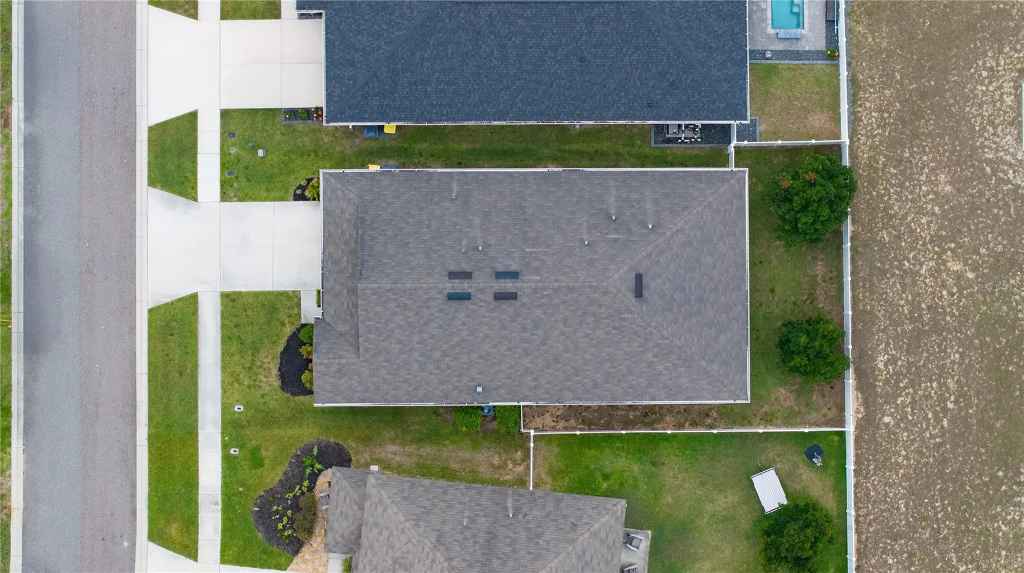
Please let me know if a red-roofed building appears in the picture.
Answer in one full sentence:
No, the photo shows no red-roofed building.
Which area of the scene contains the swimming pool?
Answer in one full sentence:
The swimming pool is in the top right part of the image.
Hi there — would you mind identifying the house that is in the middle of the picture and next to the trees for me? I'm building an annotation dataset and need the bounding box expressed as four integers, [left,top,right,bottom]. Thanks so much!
[312,168,750,407]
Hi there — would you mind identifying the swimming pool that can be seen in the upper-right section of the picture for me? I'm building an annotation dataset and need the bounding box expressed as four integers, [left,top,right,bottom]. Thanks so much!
[768,0,808,33]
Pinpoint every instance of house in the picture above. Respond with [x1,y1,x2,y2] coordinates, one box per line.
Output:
[296,0,749,124]
[324,467,626,573]
[312,168,750,407]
